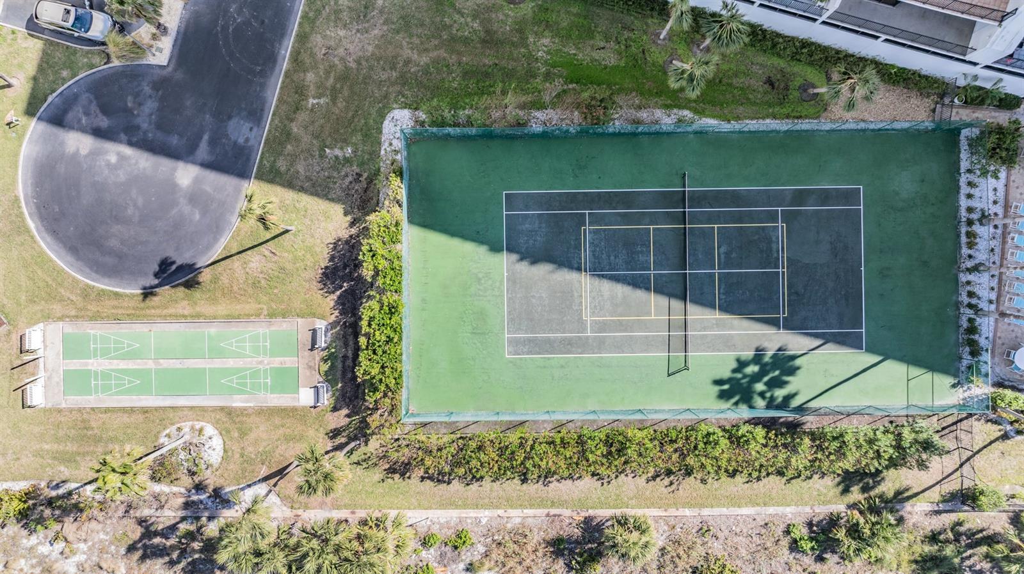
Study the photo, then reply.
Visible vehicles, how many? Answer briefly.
one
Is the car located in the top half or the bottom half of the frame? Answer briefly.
top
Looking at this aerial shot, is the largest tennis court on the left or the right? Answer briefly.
right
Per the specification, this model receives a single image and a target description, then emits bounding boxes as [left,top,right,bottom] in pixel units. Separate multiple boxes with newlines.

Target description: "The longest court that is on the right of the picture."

[407,130,962,413]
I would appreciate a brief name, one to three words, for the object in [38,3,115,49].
car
